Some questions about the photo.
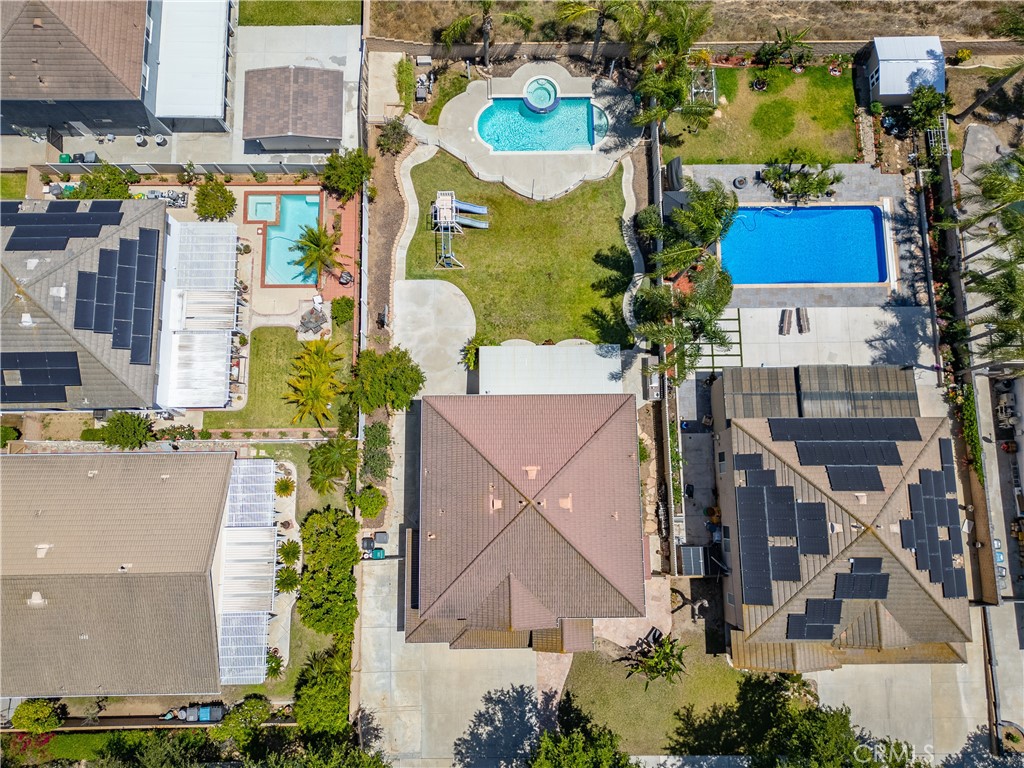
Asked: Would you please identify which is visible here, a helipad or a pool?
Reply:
pool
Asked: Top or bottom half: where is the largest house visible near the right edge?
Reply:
bottom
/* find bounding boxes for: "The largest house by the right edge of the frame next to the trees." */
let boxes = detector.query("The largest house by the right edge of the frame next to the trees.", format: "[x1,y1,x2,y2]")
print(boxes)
[718,416,974,673]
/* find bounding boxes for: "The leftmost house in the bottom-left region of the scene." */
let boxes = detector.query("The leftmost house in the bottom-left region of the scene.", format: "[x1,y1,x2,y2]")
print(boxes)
[0,451,235,699]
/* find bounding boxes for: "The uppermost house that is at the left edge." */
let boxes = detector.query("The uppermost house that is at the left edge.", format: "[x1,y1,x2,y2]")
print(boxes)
[0,0,169,133]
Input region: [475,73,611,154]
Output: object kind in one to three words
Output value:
swimming pool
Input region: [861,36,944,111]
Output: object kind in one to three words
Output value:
shed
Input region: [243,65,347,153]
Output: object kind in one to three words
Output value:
shed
